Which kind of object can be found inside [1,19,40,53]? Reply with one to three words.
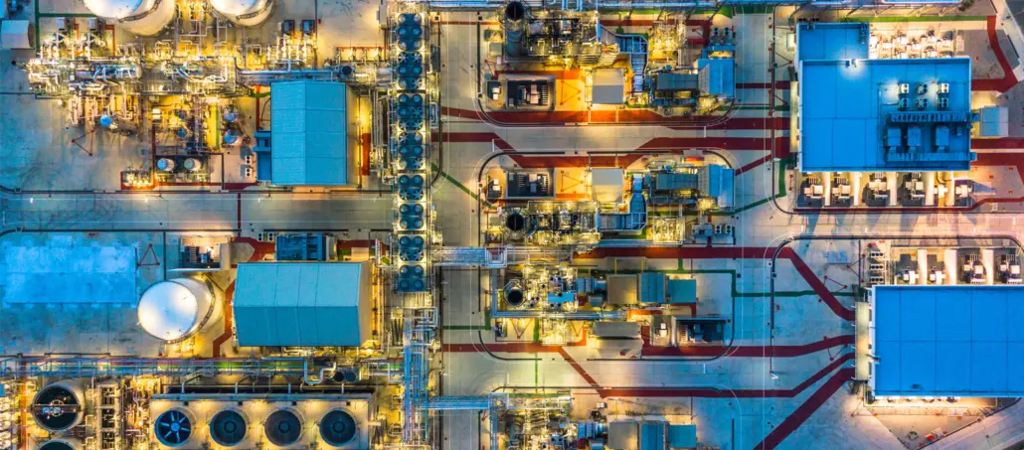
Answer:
shed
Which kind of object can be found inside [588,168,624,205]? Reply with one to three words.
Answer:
house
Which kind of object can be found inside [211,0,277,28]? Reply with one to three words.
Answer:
storage tank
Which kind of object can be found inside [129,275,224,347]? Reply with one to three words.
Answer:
storage tank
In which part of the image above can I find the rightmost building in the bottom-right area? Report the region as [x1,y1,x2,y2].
[861,282,1024,399]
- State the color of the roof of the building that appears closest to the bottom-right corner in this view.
blue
